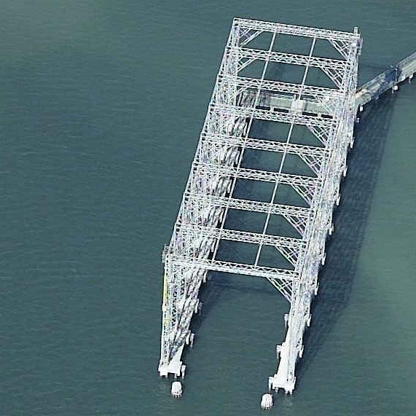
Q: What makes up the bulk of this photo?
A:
water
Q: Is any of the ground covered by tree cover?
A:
No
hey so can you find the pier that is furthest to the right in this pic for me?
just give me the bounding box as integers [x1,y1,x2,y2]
[264,101,366,395]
